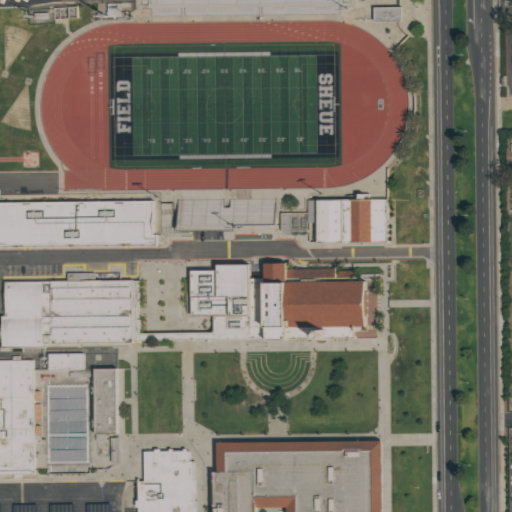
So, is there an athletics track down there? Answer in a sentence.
Yes, looking at the shot, I can spot an athletics track.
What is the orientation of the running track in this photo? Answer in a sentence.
I'd say the running track is aligned from left to right in the picture.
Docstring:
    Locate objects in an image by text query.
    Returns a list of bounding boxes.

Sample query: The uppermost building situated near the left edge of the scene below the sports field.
[0,196,162,246]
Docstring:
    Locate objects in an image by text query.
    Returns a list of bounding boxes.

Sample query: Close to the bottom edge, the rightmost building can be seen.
[212,442,382,512]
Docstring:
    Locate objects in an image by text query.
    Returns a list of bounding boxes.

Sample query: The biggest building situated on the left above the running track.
[106,3,134,18]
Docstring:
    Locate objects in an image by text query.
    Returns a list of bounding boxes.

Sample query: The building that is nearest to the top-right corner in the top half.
[374,8,403,22]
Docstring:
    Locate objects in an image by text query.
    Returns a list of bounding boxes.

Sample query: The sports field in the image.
[109,42,340,168]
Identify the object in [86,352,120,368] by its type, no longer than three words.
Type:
shed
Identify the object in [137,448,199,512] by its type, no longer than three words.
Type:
building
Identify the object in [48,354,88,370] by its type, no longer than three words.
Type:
building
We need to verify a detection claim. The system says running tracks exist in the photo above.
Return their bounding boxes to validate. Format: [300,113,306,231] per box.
[41,22,406,190]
